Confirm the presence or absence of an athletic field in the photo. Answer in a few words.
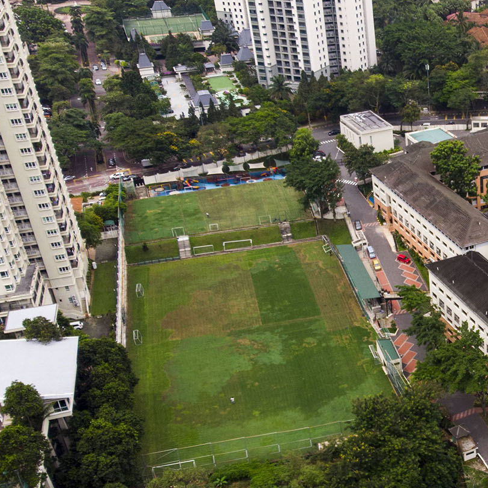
Yes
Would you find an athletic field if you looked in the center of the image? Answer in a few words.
Yes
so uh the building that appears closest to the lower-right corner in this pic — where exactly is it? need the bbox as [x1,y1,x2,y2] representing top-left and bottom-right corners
[455,437,486,463]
